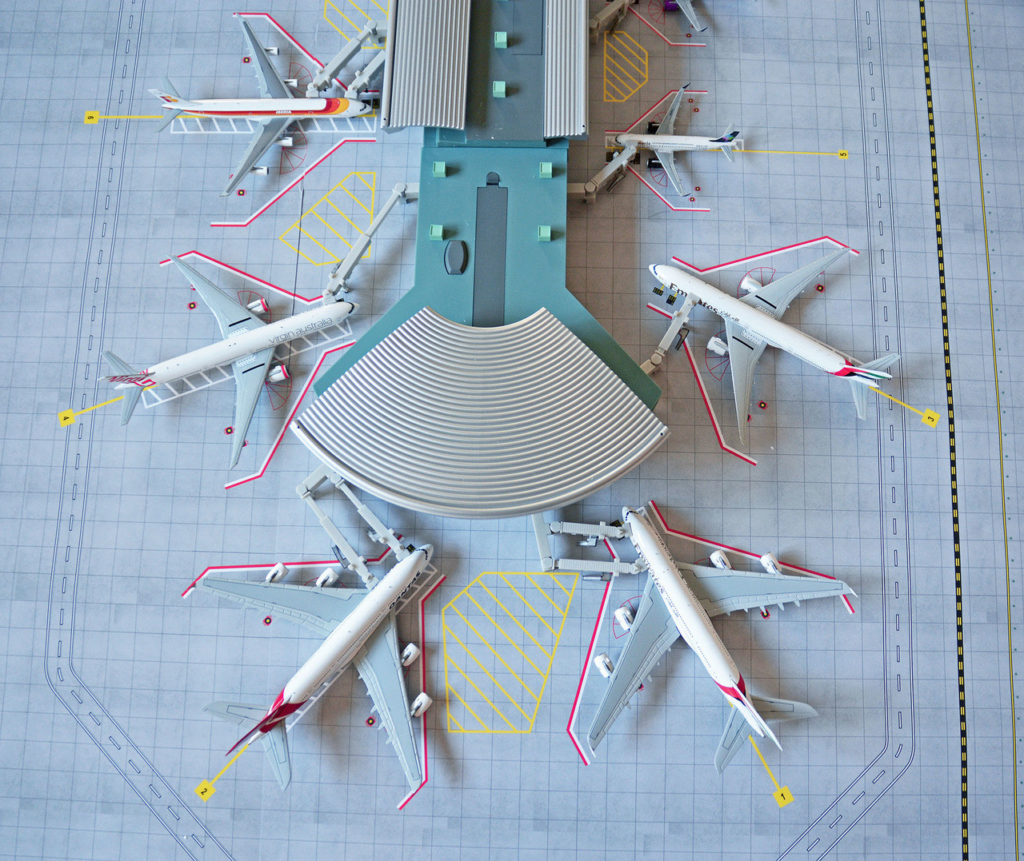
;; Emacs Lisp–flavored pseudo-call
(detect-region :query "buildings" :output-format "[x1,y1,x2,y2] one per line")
[292,0,670,568]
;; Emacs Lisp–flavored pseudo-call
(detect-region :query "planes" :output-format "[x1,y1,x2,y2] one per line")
[649,245,901,445]
[665,0,707,31]
[589,509,858,769]
[199,545,434,791]
[148,9,372,196]
[97,254,360,468]
[612,81,739,195]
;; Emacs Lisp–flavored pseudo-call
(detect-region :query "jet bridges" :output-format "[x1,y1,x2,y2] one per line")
[296,483,382,592]
[306,18,382,101]
[344,46,386,103]
[540,555,648,581]
[321,182,410,308]
[548,519,629,547]
[589,0,634,45]
[329,472,412,562]
[649,291,701,372]
[583,137,640,205]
